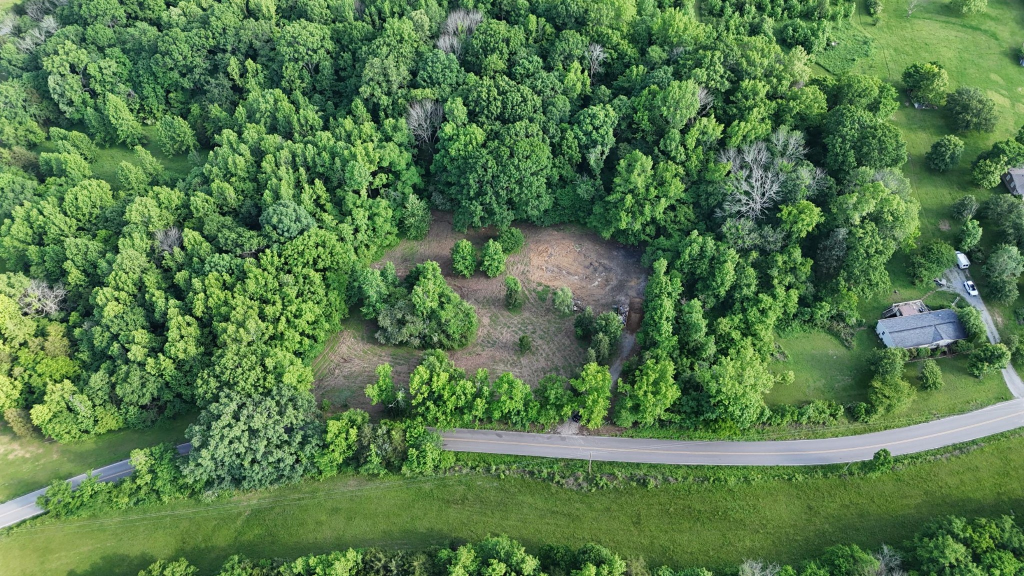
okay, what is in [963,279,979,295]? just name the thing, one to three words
car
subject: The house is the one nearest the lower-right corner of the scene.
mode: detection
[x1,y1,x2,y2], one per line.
[876,308,968,360]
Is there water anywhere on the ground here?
No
